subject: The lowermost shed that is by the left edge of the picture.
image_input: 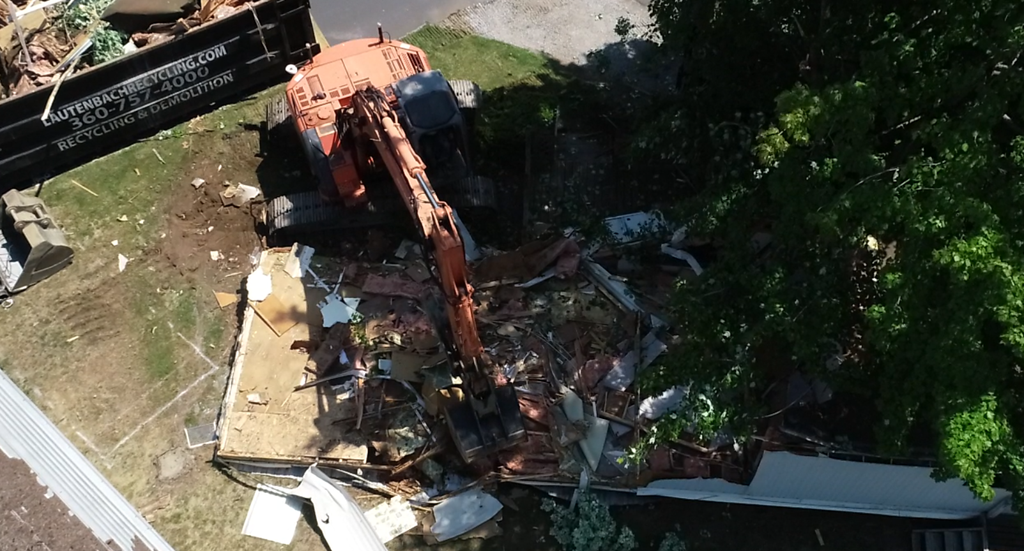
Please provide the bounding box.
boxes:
[0,368,171,551]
